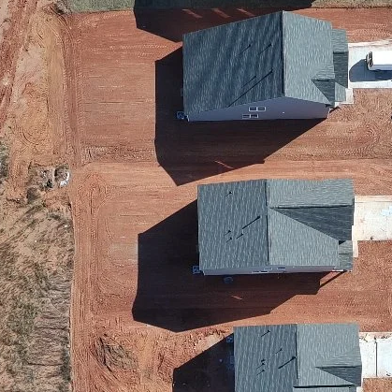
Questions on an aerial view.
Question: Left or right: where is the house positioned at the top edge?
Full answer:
The house positioned at the top edge is on the right side of the image.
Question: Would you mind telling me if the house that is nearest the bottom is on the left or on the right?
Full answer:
The house that is nearest the bottom is on the right side of the image.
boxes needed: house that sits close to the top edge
[182,11,348,122]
